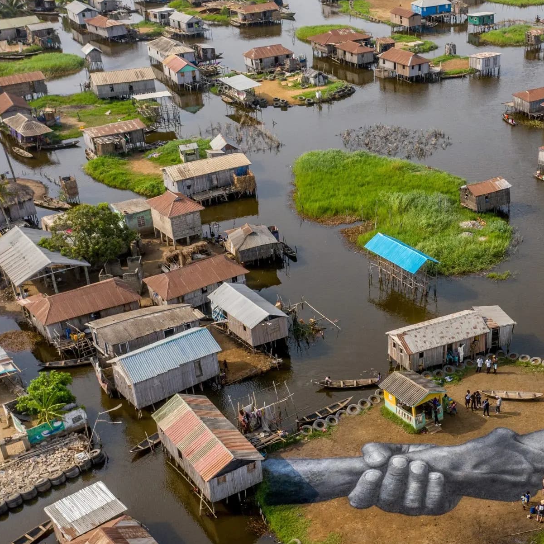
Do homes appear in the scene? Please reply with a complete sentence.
Yes, I can see a home in this picture.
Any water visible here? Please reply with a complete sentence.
Yes, water shows up in the scene.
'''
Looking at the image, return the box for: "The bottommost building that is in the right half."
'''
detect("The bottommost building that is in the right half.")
[379,366,444,433]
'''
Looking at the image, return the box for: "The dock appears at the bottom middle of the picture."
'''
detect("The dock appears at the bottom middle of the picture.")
[245,428,286,457]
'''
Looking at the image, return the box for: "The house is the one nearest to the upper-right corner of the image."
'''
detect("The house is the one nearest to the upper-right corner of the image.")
[523,28,544,50]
